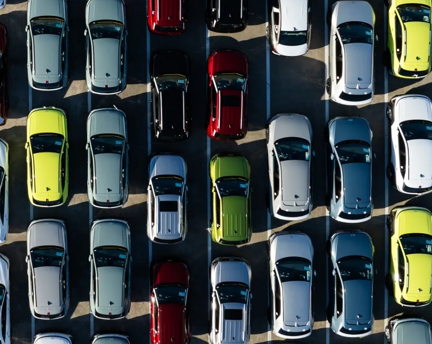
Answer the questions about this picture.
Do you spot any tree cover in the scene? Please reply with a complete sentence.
No, tree cover can't be seen anywhere here.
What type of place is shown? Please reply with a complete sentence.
What you see here is a parking lot.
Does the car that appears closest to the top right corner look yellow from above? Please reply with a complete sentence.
Yes, yellow is the color of the car that appears closest to the top right corner.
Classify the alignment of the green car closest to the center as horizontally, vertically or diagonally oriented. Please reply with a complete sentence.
In this picture, the green car closest to the center is oriented vertically.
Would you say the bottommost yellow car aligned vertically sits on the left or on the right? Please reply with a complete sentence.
You can find the bottommost yellow car aligned vertically on the right side of the picture.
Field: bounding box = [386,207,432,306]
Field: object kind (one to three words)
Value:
car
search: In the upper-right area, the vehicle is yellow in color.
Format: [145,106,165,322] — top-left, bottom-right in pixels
[384,0,432,78]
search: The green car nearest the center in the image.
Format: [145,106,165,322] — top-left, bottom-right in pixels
[209,153,255,244]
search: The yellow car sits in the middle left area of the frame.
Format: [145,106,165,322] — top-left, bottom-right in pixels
[26,108,70,206]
